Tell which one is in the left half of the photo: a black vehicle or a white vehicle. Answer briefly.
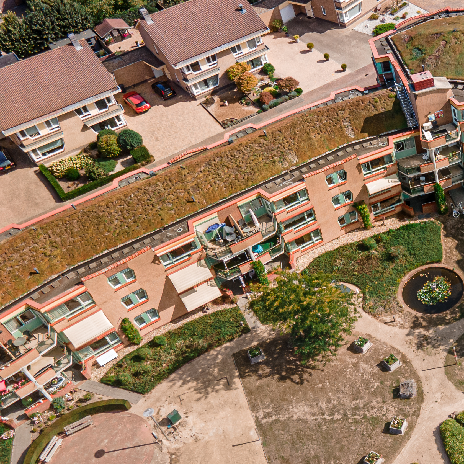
black vehicle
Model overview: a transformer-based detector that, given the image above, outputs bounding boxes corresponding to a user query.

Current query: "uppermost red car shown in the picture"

[121,90,148,110]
